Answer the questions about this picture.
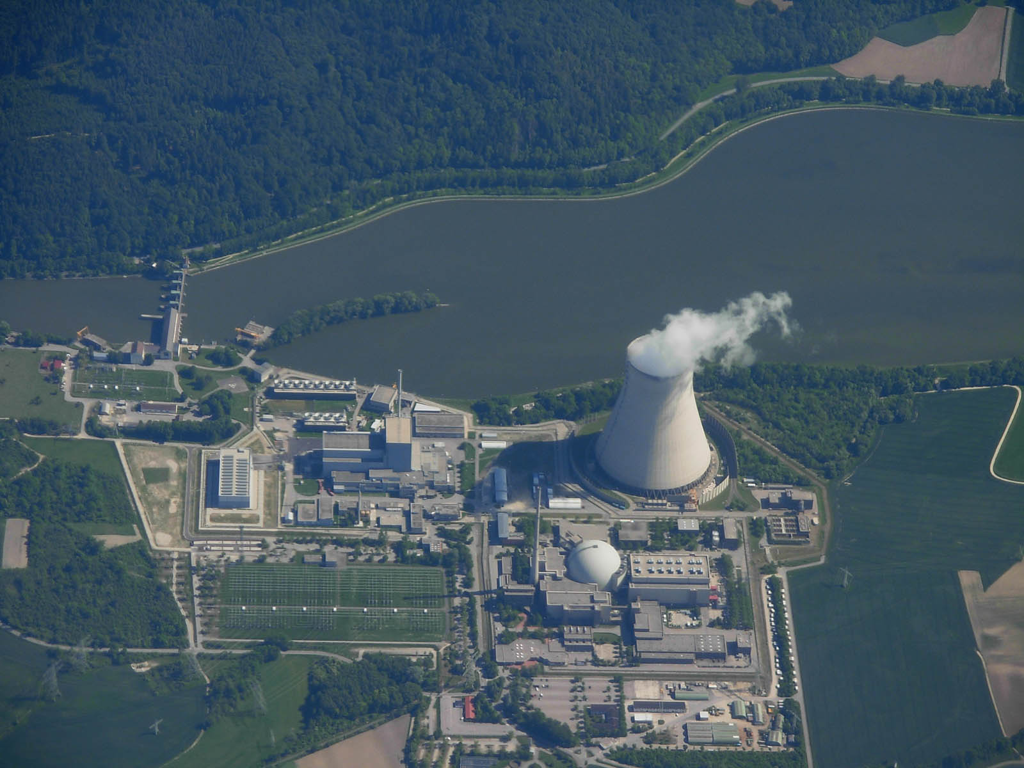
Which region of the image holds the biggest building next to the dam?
left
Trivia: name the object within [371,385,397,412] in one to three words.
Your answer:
building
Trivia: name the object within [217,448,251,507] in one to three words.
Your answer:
building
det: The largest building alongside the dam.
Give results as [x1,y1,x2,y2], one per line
[159,308,181,363]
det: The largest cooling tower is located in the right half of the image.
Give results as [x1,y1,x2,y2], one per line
[586,332,720,503]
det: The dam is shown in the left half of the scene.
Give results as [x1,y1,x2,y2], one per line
[156,265,188,315]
